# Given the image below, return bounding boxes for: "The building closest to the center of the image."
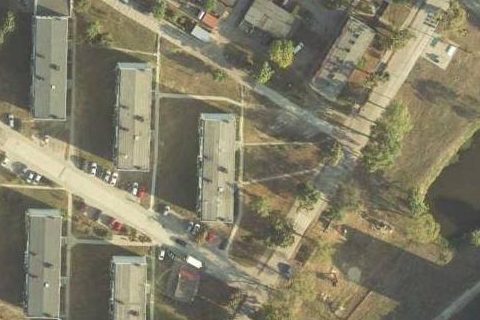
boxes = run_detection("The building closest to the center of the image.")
[200,113,238,223]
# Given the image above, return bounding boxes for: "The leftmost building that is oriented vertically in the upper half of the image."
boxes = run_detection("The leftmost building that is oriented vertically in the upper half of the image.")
[32,15,72,121]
